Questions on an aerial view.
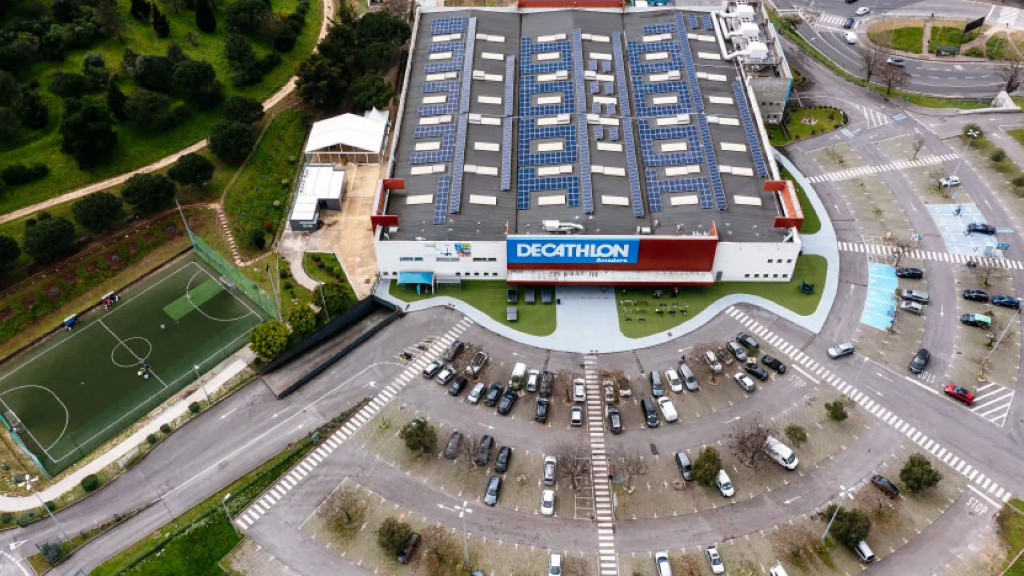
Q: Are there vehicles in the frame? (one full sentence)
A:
Yes, looking at the shot, I can spot a vehicle.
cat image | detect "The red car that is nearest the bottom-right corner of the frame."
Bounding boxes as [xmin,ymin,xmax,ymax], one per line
[942,383,977,406]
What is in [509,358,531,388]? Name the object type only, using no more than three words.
vehicle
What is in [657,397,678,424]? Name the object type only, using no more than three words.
car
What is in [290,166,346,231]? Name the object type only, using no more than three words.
building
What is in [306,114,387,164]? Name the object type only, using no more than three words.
tent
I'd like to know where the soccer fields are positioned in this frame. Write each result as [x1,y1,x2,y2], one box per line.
[0,253,279,477]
